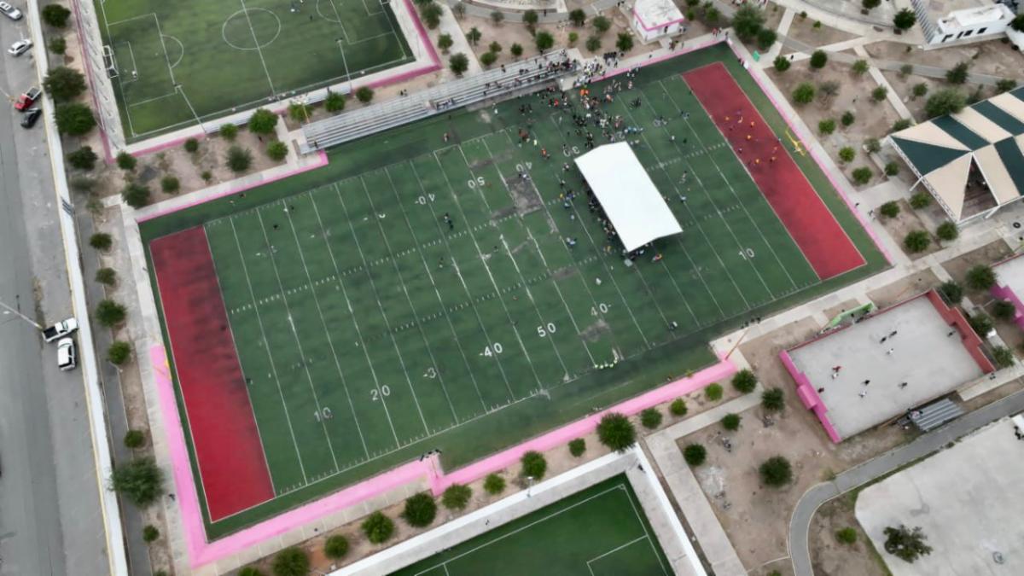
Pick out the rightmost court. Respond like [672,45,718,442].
[992,251,1024,307]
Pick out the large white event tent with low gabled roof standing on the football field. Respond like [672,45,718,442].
[574,141,683,261]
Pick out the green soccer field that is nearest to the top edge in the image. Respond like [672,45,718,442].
[94,0,415,142]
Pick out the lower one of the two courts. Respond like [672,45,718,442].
[783,293,981,441]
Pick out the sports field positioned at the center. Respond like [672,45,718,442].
[138,41,894,543]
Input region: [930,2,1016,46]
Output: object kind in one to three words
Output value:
building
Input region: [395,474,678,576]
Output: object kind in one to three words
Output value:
soccer field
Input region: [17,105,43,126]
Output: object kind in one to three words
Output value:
car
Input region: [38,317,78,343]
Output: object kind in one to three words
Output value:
vehicle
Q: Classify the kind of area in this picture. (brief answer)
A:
sports ground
